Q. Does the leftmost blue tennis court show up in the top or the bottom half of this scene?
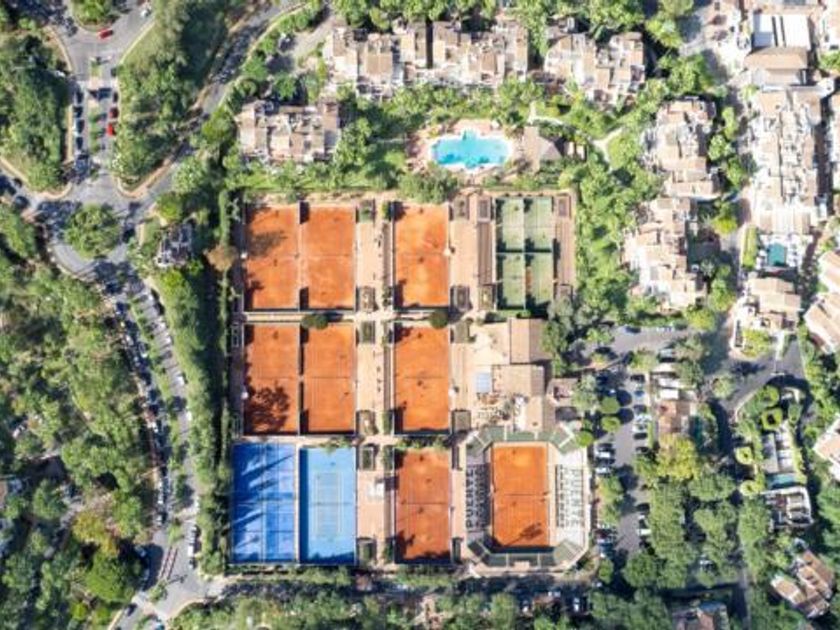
bottom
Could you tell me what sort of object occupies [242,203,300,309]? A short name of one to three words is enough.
tennis court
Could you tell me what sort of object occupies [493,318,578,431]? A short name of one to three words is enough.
building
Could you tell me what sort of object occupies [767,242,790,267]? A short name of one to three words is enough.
swimming pool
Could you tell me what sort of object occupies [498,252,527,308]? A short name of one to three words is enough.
sports court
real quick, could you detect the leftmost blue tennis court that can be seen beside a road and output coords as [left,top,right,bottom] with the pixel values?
[231,443,298,566]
